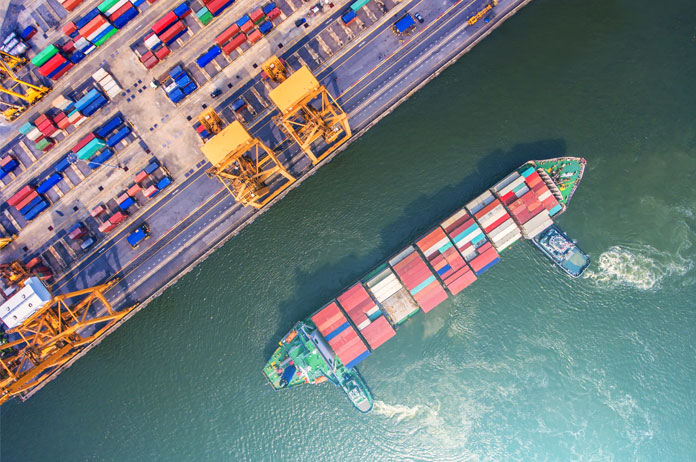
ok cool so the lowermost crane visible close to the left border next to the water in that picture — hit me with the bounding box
[0,272,139,399]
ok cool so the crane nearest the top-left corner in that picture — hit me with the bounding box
[0,51,47,105]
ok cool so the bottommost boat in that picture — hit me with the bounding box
[336,362,376,416]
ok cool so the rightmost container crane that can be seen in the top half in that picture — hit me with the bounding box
[268,56,364,174]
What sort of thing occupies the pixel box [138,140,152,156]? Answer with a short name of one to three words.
vehicle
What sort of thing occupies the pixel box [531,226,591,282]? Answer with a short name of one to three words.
boat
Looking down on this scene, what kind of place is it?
port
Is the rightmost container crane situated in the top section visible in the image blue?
No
